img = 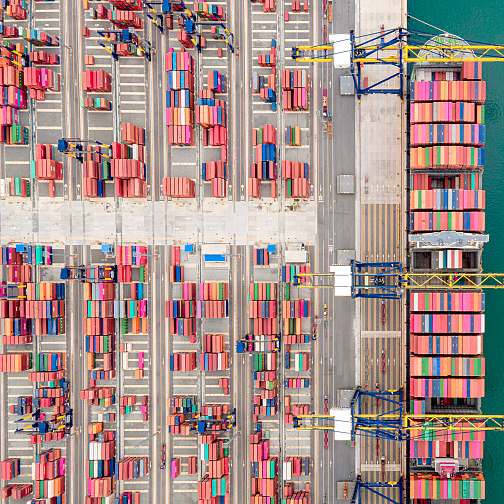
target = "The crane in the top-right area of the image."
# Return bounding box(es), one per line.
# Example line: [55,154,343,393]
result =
[291,23,504,102]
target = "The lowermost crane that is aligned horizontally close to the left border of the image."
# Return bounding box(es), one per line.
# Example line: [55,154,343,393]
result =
[13,407,72,433]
